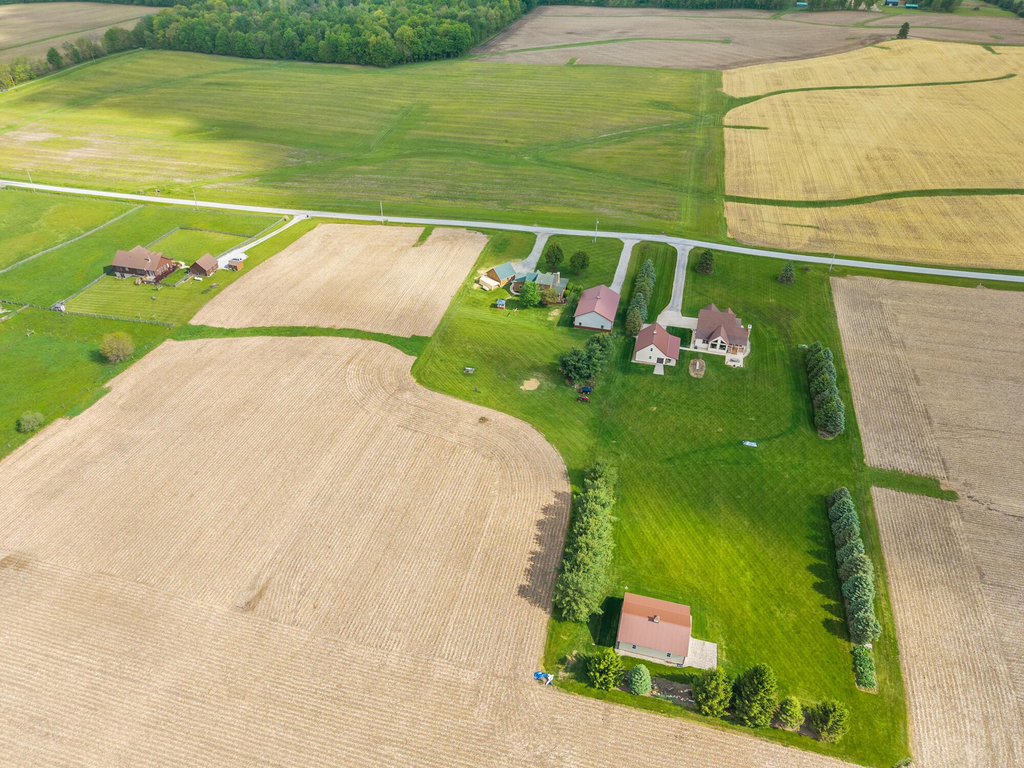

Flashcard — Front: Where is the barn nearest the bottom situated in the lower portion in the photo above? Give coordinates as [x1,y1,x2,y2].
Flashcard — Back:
[618,592,691,667]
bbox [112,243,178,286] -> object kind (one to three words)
house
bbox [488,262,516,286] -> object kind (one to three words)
building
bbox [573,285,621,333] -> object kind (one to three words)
barn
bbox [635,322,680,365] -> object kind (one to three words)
barn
